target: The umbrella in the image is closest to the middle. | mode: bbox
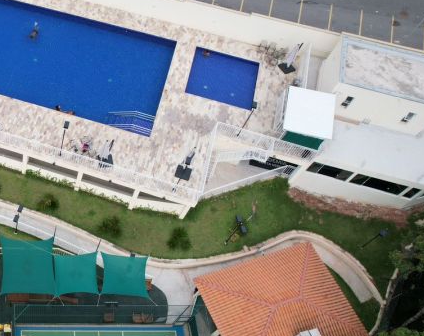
[177,149,201,178]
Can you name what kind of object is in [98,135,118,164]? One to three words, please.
umbrella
